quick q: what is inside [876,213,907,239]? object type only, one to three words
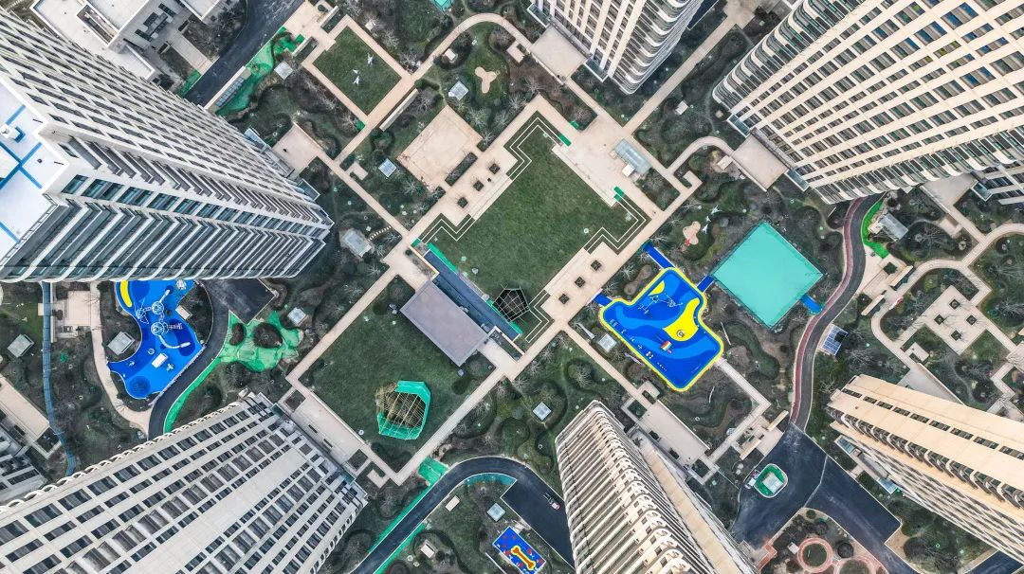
shed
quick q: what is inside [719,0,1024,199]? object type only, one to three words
building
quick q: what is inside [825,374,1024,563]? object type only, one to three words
building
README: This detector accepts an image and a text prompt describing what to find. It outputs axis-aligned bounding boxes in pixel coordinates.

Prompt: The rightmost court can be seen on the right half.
[707,216,830,333]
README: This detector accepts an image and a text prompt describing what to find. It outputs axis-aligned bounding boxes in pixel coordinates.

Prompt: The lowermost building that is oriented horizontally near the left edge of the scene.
[0,400,362,574]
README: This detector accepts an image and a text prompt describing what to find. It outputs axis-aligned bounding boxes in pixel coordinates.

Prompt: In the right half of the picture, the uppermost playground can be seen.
[601,268,723,390]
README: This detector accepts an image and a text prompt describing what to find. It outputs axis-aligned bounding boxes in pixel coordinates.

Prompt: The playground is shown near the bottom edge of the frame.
[492,526,546,574]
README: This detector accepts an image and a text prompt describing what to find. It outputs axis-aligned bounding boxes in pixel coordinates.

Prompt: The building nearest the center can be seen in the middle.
[400,279,488,367]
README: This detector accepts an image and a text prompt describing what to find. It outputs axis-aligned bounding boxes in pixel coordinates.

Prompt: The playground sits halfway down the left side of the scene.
[107,272,204,399]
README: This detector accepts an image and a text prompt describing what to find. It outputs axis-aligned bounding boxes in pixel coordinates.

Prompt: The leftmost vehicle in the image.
[540,490,560,509]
